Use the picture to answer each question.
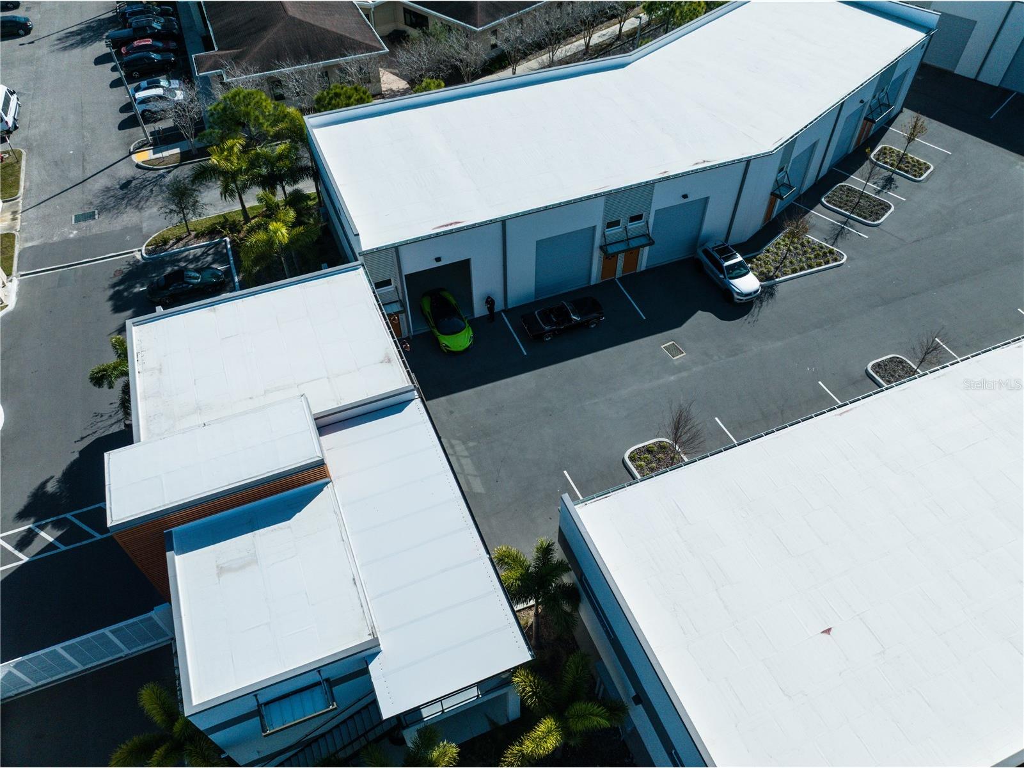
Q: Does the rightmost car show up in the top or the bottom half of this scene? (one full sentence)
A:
The rightmost car sits in the top half of the picture.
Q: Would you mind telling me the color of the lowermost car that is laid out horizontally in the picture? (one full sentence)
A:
The color of the lowermost car that is laid out horizontally is black.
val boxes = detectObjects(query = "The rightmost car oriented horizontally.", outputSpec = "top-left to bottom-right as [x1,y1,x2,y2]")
[521,291,611,336]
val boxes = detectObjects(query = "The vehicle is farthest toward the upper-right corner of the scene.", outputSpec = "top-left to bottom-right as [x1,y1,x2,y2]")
[695,236,762,299]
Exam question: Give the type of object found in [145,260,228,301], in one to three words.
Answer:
car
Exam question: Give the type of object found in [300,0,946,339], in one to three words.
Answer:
building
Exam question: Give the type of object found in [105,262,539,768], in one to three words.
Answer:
building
